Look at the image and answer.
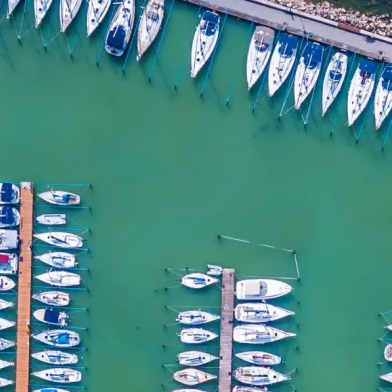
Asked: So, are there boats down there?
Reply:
Yes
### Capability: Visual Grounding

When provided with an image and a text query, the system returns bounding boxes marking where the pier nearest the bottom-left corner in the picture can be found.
[15,182,34,392]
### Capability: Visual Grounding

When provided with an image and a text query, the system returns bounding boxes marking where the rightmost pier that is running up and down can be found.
[219,269,235,392]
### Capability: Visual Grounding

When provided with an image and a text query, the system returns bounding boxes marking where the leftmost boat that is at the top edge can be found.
[6,0,22,21]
